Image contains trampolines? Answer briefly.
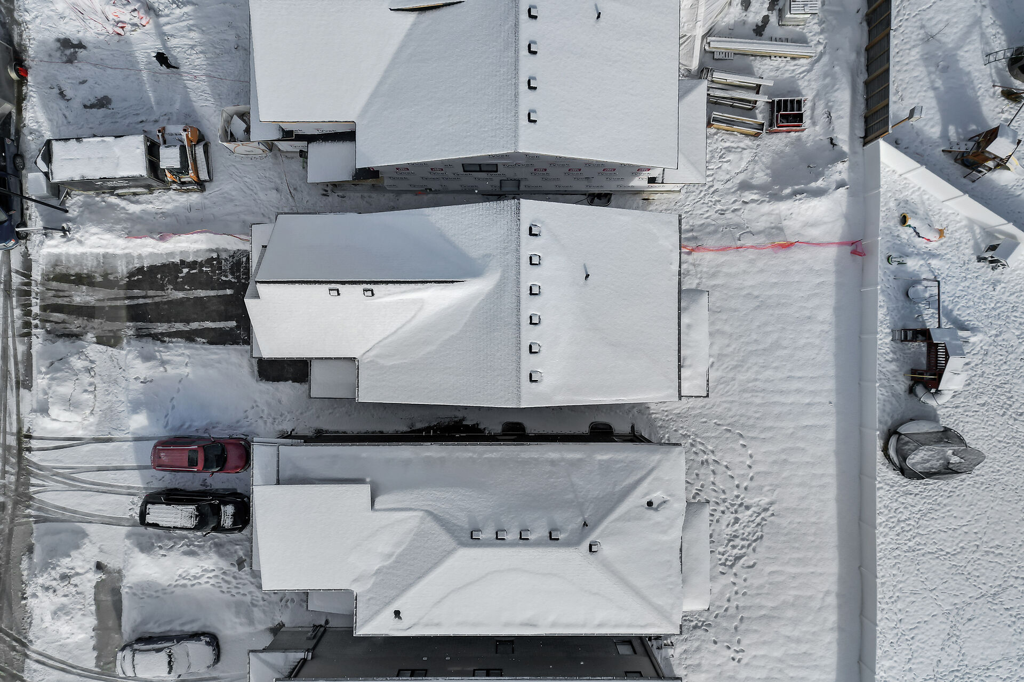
Yes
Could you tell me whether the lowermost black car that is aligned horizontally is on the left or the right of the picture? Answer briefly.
left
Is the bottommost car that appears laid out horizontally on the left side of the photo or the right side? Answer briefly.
left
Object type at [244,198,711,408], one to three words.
house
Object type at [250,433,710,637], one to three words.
house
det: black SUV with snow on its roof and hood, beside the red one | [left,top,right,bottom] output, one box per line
[139,488,250,538]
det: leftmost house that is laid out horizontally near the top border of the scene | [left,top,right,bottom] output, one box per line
[249,0,707,193]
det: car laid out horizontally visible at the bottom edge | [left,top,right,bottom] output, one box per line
[119,631,220,678]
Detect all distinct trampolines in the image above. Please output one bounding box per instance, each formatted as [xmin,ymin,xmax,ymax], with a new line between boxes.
[886,416,986,483]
